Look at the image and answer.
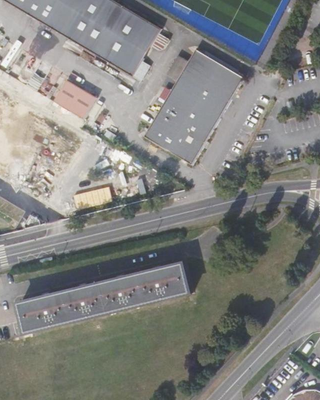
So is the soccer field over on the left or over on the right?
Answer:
right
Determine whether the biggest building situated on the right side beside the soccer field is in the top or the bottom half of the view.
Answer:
top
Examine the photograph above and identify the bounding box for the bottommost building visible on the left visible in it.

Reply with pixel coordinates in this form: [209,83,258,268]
[14,260,191,334]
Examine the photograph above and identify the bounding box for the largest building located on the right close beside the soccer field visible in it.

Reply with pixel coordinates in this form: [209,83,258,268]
[142,49,246,168]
